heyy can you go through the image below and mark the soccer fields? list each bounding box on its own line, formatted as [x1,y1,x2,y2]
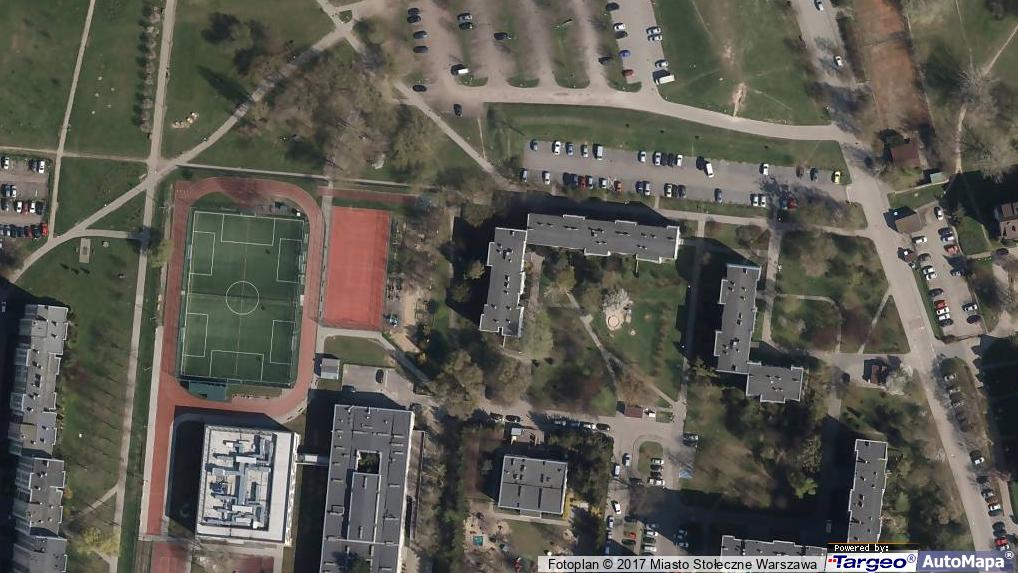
[177,208,308,385]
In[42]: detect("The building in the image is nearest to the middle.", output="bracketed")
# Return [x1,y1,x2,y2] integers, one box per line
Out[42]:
[480,228,529,338]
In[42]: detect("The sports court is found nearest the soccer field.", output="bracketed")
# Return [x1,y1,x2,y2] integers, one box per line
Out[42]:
[323,207,390,330]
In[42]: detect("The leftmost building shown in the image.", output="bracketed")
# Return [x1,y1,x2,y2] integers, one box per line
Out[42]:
[8,305,72,573]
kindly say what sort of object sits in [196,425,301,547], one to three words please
building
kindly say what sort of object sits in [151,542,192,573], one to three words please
sports court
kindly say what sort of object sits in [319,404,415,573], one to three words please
building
